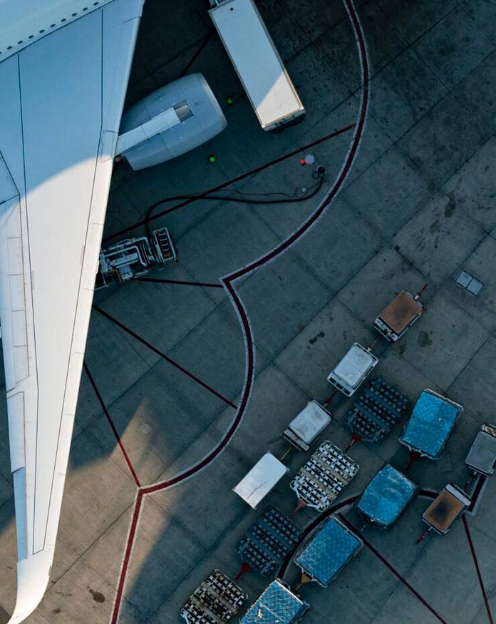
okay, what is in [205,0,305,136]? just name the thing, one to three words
truck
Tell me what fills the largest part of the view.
paved ground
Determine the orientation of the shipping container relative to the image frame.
on a diagonal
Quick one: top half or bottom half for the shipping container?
bottom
